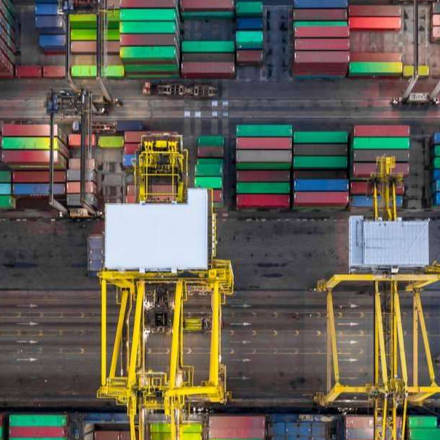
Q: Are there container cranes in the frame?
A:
Yes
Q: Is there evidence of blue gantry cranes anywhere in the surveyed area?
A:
No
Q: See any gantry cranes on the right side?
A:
Yes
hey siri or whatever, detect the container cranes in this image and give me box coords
[392,0,440,105]
[40,88,108,215]
[306,152,440,440]
[96,127,244,440]
[57,0,123,105]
